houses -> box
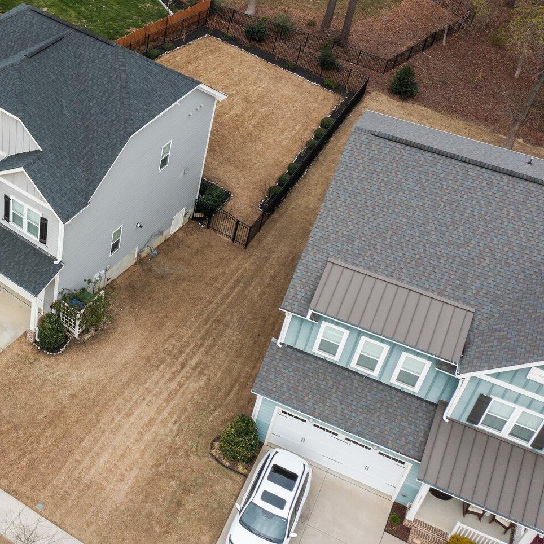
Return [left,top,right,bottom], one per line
[247,111,544,544]
[0,0,227,353]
